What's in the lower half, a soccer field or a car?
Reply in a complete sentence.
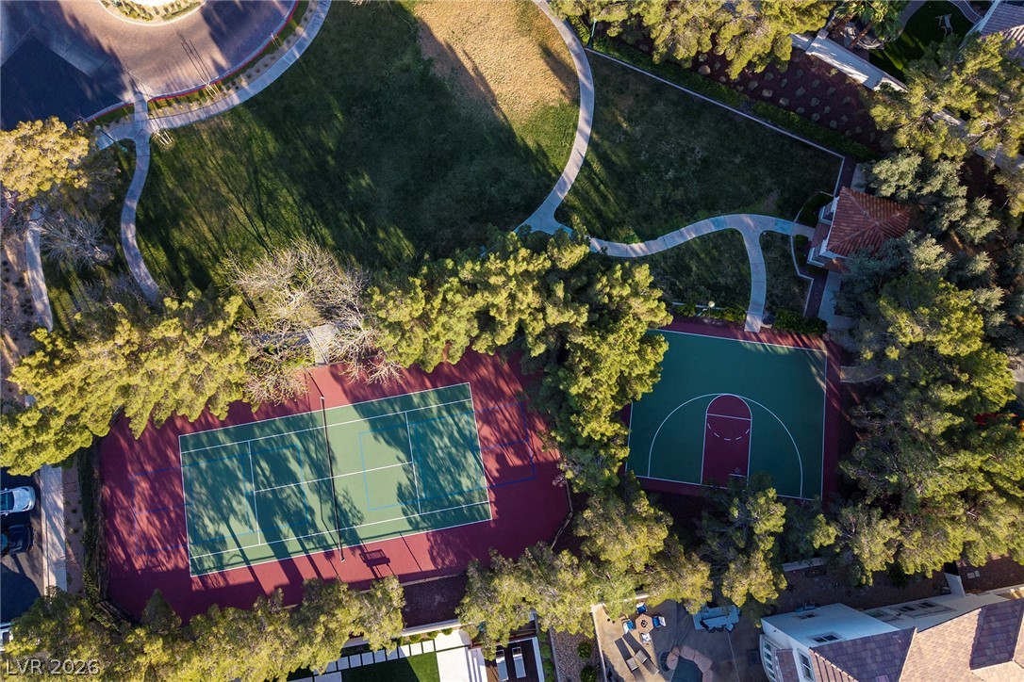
Looking in the lower half, you will find a car.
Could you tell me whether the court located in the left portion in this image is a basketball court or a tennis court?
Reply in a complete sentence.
Looking closely, the court located in the left portion is a tennis court.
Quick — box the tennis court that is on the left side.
[99,332,571,632]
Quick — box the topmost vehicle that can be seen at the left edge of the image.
[0,486,38,515]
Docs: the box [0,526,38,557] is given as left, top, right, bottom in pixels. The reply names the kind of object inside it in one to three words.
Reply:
car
